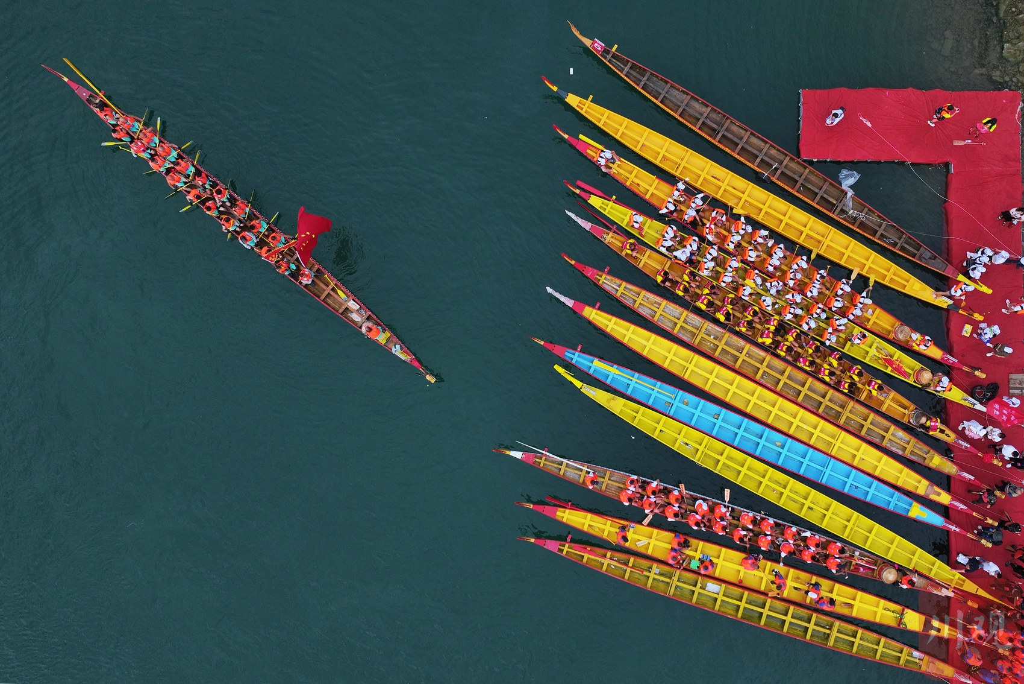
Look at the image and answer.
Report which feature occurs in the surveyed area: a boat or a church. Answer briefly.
boat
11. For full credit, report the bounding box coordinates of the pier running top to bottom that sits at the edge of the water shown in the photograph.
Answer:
[799,86,1024,684]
